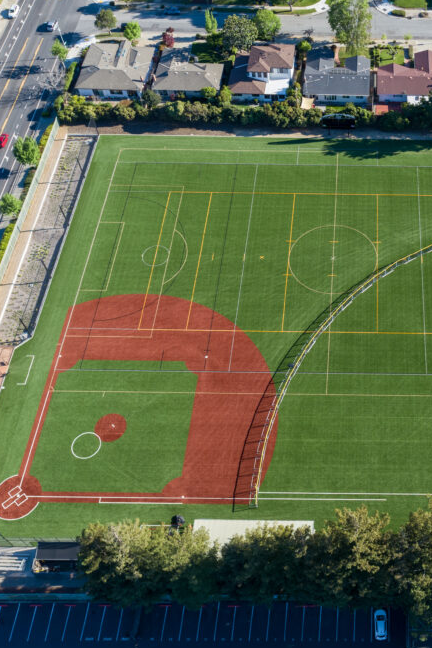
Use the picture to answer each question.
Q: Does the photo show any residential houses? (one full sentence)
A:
Yes, the photo shows a residential house.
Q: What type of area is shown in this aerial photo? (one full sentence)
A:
What you see here is a sports ground.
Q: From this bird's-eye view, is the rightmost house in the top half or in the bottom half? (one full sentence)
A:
It is in the top half that the rightmost house appears.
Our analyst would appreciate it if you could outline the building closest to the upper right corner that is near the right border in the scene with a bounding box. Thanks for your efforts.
[377,47,432,103]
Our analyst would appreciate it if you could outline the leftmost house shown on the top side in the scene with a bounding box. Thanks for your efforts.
[75,37,154,97]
